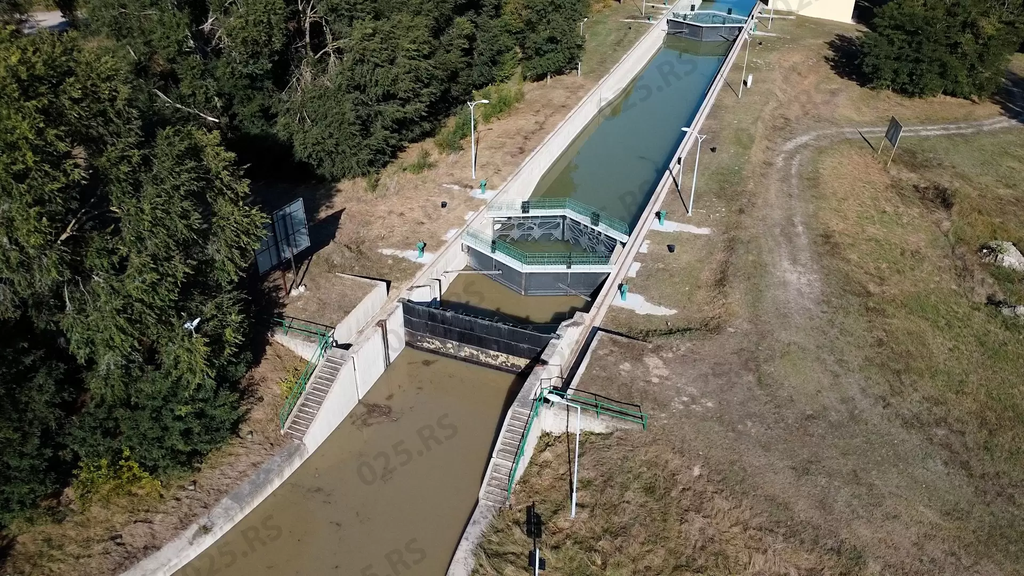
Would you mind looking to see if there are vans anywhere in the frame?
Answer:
No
